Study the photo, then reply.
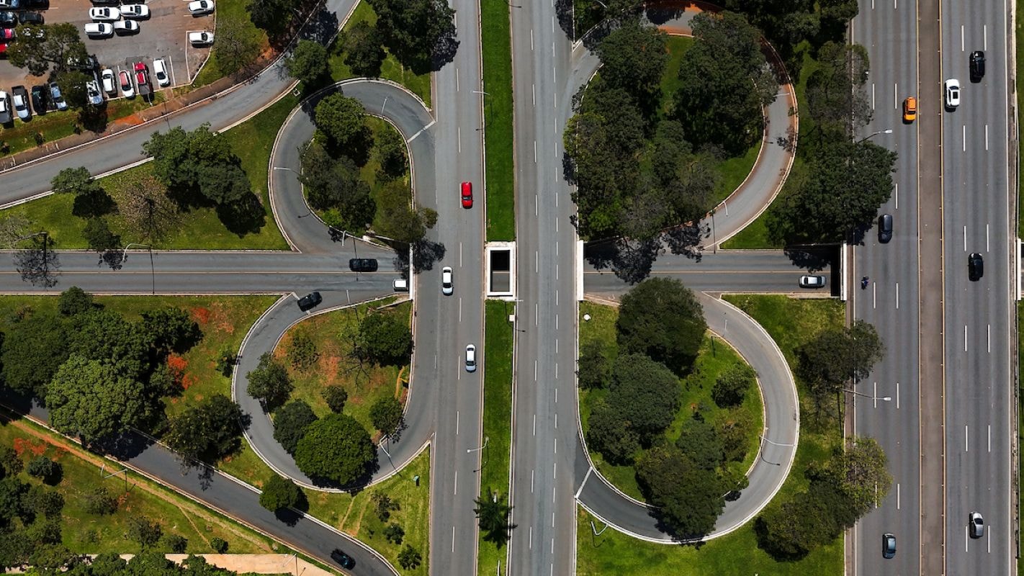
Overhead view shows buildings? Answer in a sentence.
No, there's no building here.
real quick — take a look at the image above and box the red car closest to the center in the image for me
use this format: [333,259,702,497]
[460,182,473,208]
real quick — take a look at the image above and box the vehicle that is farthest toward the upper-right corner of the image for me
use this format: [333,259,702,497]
[968,51,986,81]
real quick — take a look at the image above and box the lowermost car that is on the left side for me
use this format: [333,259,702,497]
[329,547,357,570]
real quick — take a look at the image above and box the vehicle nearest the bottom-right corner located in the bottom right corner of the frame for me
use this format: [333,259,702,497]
[968,511,983,538]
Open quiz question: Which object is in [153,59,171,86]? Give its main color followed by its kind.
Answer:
white car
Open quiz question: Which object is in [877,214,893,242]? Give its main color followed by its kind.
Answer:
black car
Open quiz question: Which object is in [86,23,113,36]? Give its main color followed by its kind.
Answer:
white vehicle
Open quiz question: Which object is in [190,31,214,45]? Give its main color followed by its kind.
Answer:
white car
